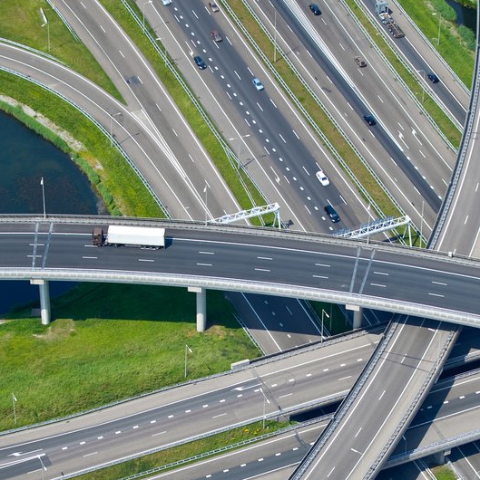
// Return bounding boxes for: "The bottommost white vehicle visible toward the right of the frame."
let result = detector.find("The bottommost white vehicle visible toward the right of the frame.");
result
[315,172,329,184]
